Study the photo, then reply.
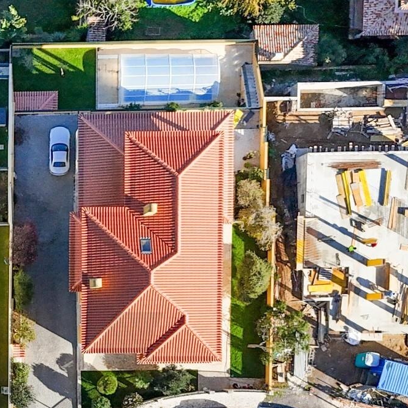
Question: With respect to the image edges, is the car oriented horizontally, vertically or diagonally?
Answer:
vertically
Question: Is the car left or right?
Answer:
left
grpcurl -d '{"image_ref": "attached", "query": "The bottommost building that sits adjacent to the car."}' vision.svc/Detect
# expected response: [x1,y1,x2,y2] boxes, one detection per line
[68,107,236,365]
